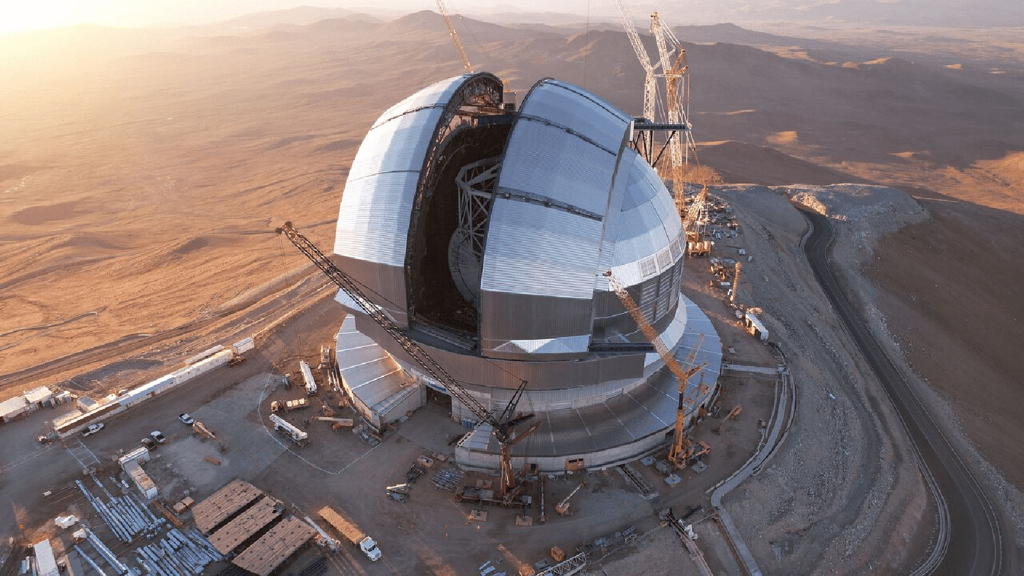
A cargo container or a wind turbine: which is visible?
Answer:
cargo container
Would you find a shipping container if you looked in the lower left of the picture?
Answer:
Yes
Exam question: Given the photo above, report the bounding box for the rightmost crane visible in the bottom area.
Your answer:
[598,268,716,479]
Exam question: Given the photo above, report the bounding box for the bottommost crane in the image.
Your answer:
[287,494,339,552]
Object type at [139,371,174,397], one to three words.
building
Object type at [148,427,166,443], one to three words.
vehicle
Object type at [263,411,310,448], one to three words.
crane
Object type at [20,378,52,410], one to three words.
shed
